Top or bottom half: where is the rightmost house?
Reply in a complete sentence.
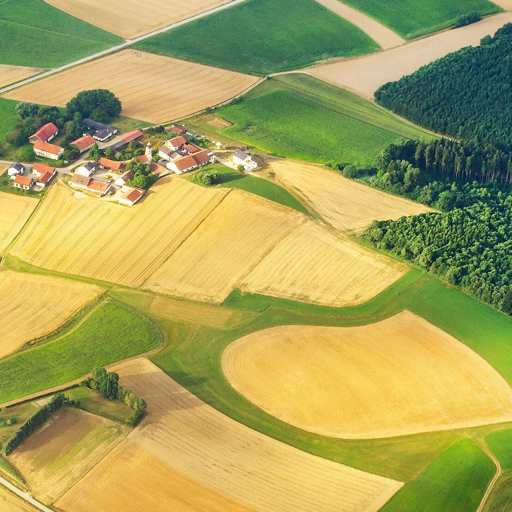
The rightmost house is in the top half of the image.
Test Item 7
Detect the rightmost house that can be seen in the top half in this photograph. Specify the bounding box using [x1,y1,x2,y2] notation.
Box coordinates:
[232,148,259,170]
